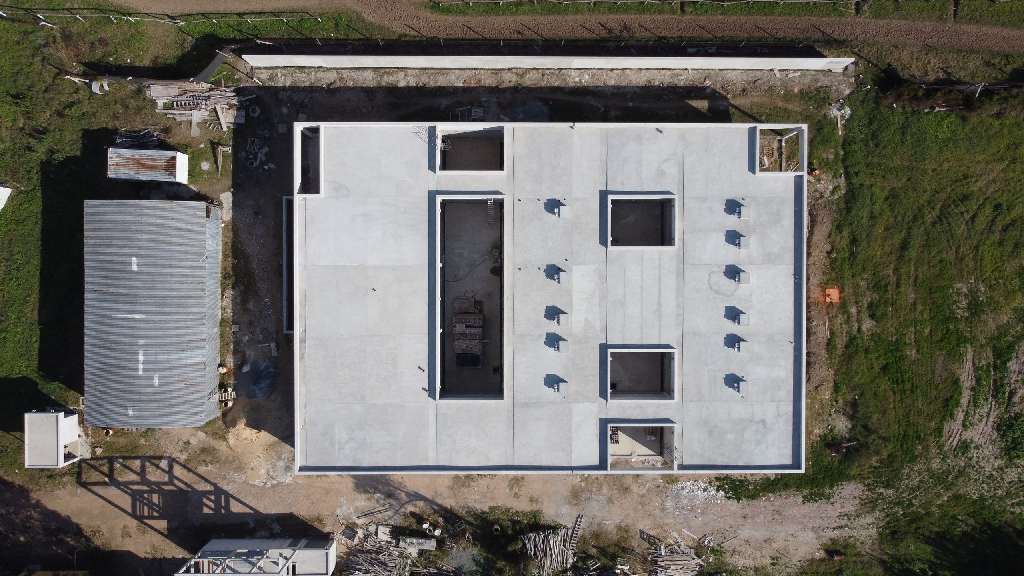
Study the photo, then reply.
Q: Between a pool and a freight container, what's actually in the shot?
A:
freight container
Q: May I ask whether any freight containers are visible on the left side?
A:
Yes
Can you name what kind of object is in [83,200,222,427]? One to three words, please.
shed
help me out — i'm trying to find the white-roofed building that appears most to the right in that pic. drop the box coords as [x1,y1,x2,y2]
[294,123,808,474]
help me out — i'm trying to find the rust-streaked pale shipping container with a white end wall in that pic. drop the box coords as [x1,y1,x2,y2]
[107,148,189,184]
